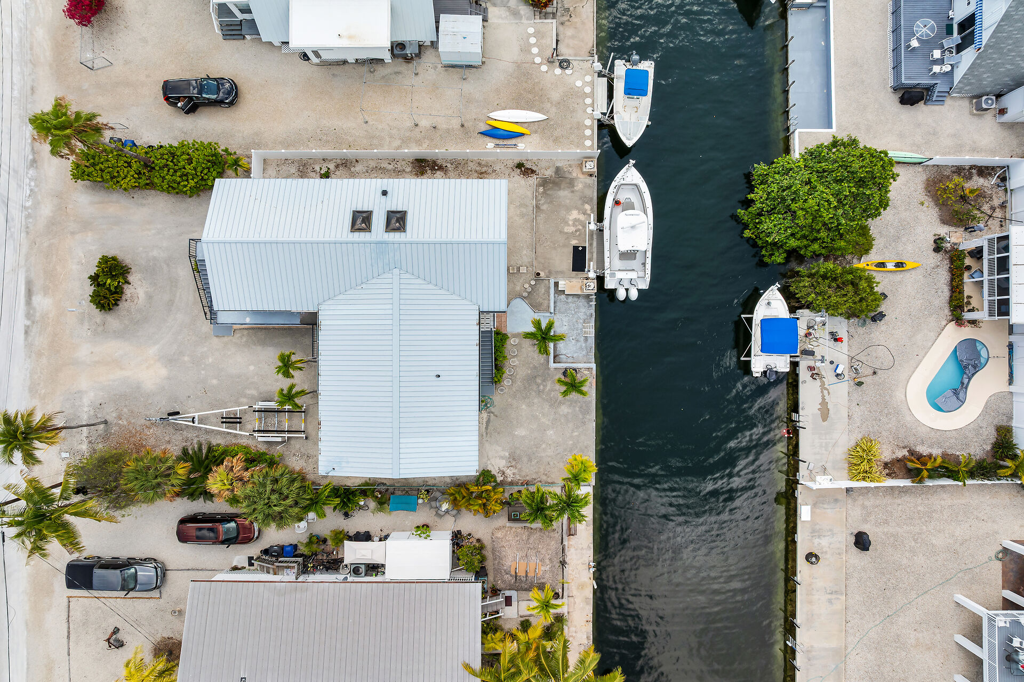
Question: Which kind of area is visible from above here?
residential area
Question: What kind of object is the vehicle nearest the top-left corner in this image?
car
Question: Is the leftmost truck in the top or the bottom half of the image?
bottom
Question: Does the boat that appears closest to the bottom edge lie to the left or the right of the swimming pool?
on its left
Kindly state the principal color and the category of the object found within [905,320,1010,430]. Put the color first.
white swimming pool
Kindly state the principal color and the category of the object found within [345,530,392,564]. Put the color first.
white gazebo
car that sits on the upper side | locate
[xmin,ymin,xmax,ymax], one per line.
[162,71,240,124]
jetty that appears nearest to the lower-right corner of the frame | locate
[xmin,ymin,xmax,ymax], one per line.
[789,482,847,682]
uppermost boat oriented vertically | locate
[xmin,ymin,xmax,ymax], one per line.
[614,50,653,147]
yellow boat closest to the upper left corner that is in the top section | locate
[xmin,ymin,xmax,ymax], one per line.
[484,119,530,133]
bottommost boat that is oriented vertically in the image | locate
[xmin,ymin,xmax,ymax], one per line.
[748,283,799,386]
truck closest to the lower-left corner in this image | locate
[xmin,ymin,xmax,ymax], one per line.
[65,553,166,599]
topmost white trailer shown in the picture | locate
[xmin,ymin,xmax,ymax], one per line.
[146,401,306,449]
